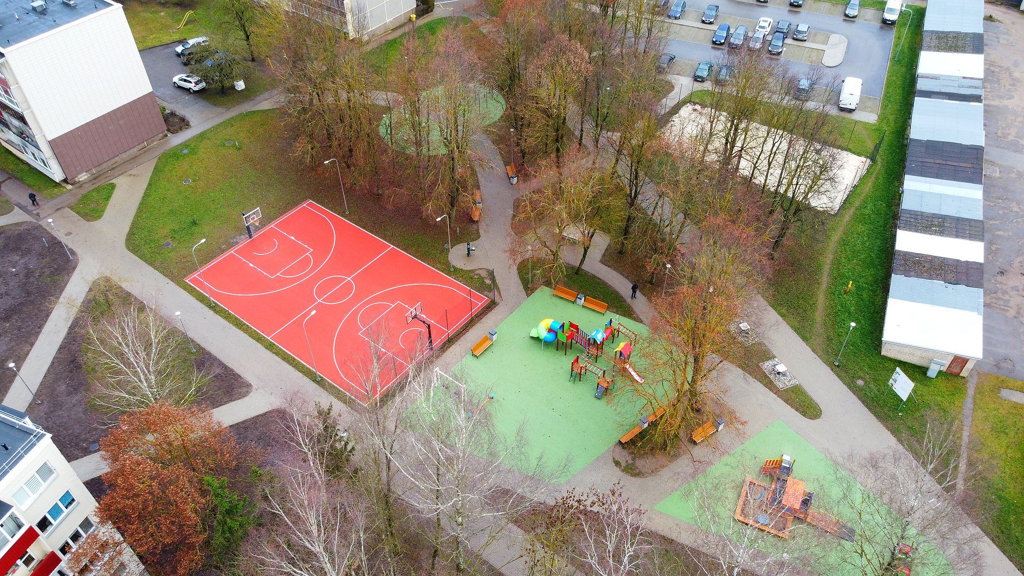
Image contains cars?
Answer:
Yes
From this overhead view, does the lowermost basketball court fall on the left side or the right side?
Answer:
left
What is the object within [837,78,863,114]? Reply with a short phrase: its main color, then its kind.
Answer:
white vehicle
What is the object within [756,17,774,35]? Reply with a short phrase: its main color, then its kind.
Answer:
white car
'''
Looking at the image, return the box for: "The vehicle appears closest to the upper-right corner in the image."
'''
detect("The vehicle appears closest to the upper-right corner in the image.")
[882,0,903,24]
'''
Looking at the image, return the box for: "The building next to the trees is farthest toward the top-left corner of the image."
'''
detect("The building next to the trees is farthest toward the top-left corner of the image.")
[0,0,171,187]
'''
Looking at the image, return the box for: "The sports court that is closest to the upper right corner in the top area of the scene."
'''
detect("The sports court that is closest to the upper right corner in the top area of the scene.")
[665,103,871,213]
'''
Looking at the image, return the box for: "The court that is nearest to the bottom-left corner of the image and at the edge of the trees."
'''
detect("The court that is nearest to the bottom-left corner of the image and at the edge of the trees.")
[179,196,493,409]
